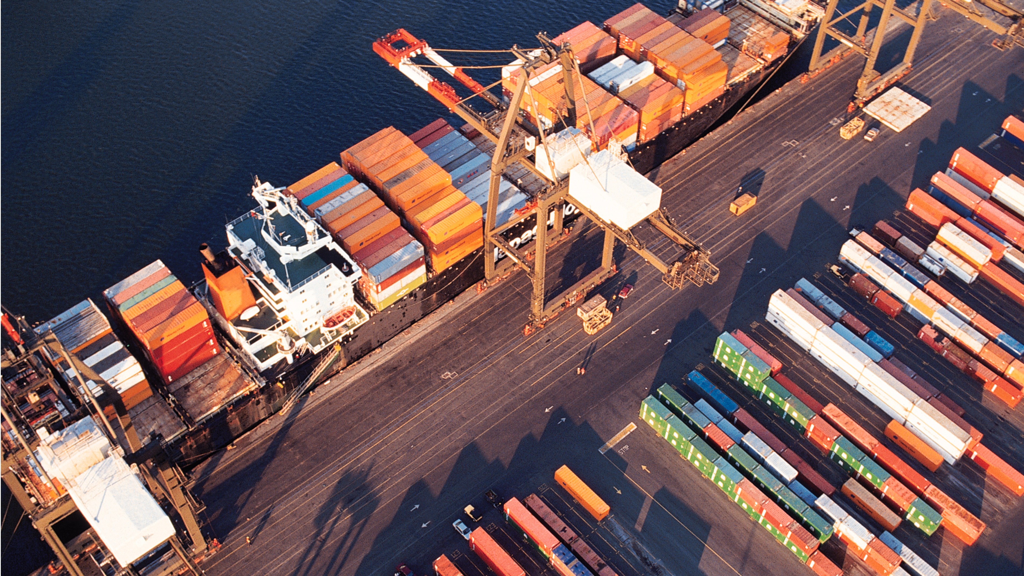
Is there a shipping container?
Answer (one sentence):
Yes, you can see a shipping container in this photo.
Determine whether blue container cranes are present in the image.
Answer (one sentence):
No, I can see no blue container crane in this picture.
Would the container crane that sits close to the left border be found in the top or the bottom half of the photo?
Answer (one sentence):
It is in the bottom half that the container crane that sits close to the left border appears.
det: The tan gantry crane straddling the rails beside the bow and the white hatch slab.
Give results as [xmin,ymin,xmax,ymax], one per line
[794,0,1024,118]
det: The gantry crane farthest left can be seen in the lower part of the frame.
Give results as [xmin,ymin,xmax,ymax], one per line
[0,290,224,576]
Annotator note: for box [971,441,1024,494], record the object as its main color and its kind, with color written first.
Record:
red shipping container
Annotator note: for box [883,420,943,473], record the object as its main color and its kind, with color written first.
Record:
orange shipping container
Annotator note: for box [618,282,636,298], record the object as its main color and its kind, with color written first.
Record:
red car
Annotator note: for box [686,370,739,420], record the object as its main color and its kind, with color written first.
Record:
blue shipping container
